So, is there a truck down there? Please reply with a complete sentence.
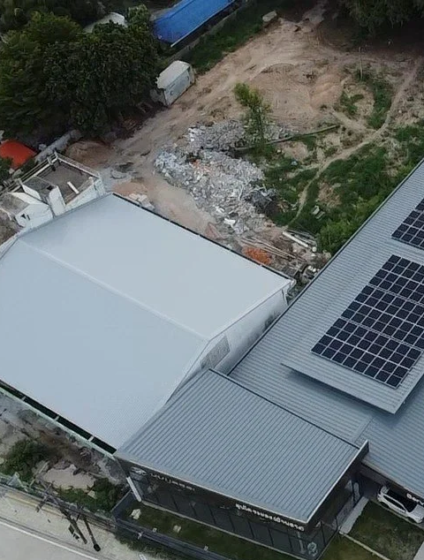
No, no truck is visible in the scene.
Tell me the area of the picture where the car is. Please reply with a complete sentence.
The car appears toward the bottom right of the photo.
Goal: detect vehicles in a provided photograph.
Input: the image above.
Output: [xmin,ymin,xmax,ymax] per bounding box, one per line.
[379,488,424,526]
